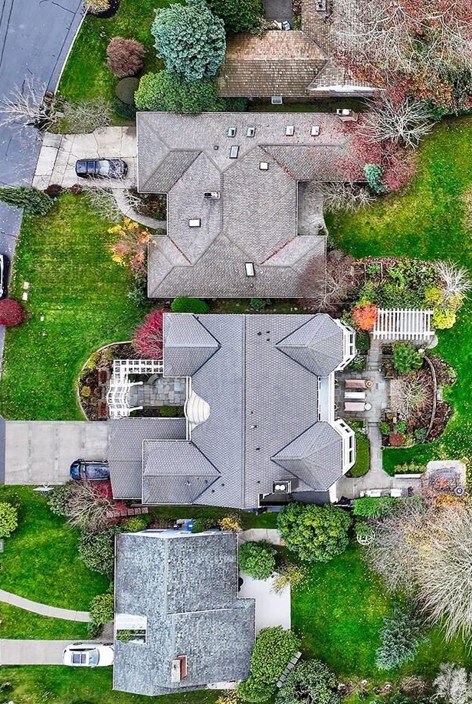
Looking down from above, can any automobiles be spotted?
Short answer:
Yes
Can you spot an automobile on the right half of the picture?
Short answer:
No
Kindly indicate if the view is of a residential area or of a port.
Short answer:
residential area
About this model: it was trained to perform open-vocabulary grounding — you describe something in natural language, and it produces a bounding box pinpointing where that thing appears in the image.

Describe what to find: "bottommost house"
[113,527,264,694]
